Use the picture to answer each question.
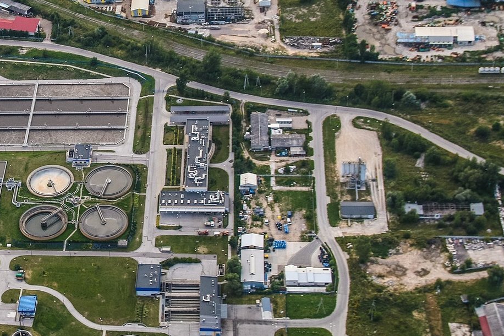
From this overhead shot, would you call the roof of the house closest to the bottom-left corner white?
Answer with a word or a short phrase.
No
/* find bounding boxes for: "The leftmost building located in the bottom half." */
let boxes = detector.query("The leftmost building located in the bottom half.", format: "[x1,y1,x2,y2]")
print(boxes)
[17,296,39,318]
